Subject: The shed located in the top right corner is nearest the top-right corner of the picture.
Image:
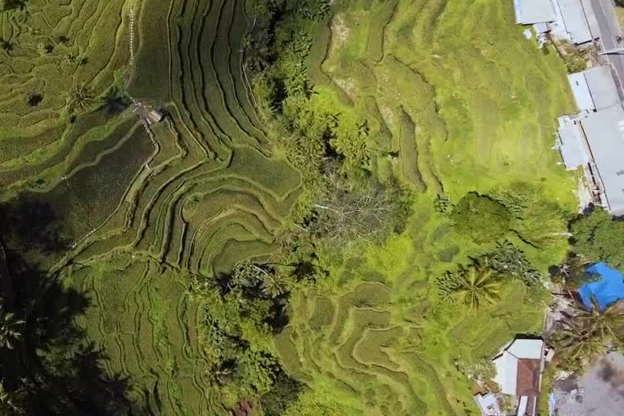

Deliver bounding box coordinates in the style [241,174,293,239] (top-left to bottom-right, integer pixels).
[550,0,601,44]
